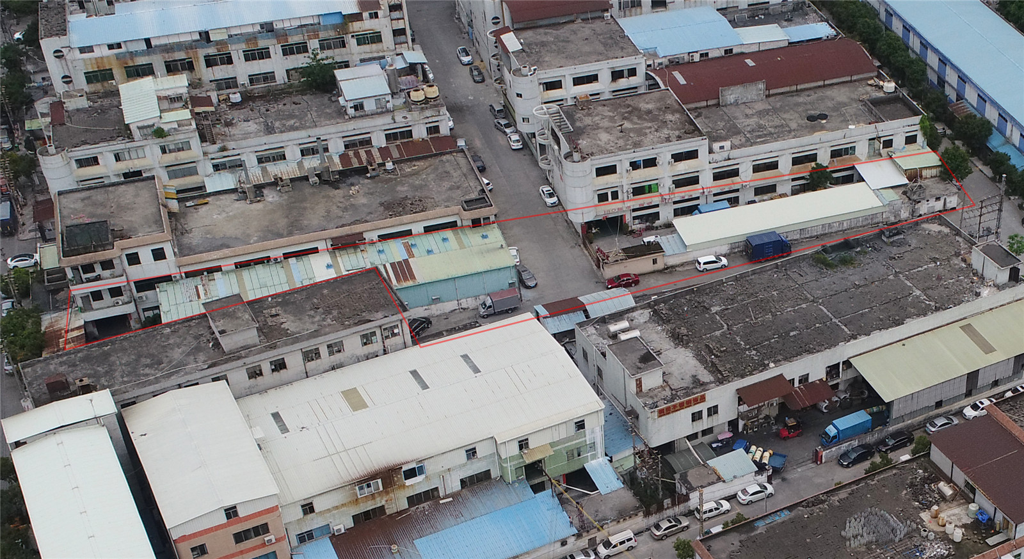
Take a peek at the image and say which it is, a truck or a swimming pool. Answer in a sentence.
Of the two, only a truck appears.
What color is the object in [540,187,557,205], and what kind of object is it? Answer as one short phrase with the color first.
white car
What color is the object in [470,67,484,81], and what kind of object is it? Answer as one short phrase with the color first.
gray car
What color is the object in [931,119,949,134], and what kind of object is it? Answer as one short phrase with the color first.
gray car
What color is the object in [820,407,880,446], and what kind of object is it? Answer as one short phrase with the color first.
blue truck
